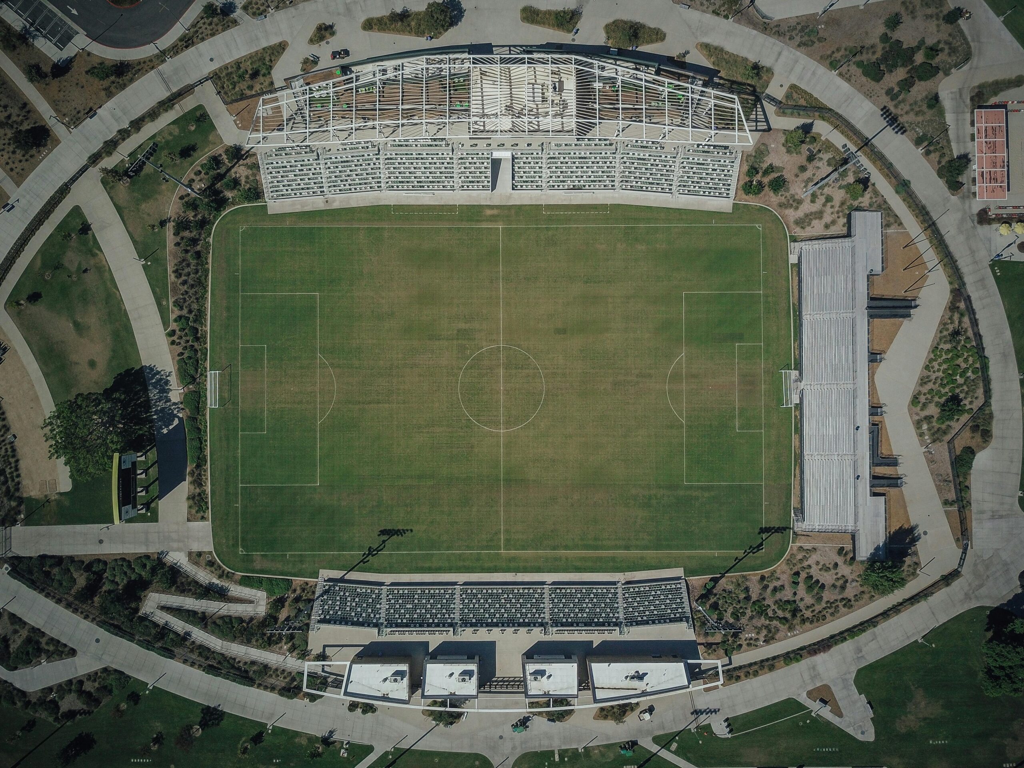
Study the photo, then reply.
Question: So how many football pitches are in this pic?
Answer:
1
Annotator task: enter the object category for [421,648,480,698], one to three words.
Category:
building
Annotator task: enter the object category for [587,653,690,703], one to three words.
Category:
building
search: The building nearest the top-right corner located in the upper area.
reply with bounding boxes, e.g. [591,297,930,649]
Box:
[966,108,1008,201]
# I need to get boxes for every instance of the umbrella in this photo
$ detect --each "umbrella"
[997,224,1011,236]
[1013,223,1024,235]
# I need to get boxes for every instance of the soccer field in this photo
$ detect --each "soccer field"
[208,202,792,579]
